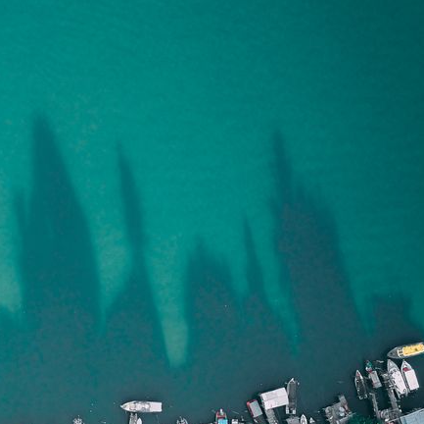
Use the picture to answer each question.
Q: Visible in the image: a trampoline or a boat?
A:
boat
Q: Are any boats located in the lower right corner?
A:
Yes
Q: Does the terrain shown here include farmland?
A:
No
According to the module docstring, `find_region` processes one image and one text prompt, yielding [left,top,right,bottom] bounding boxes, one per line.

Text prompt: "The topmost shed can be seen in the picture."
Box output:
[256,387,289,411]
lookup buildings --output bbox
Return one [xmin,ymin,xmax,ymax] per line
[256,387,289,411]
[395,408,424,424]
